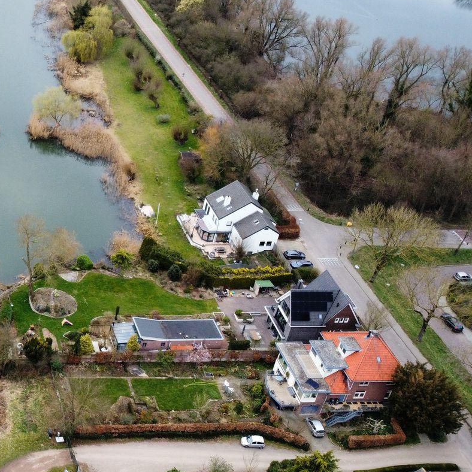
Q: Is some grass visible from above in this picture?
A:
Yes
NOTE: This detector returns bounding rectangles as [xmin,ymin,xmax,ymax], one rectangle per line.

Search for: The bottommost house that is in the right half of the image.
[264,329,420,422]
